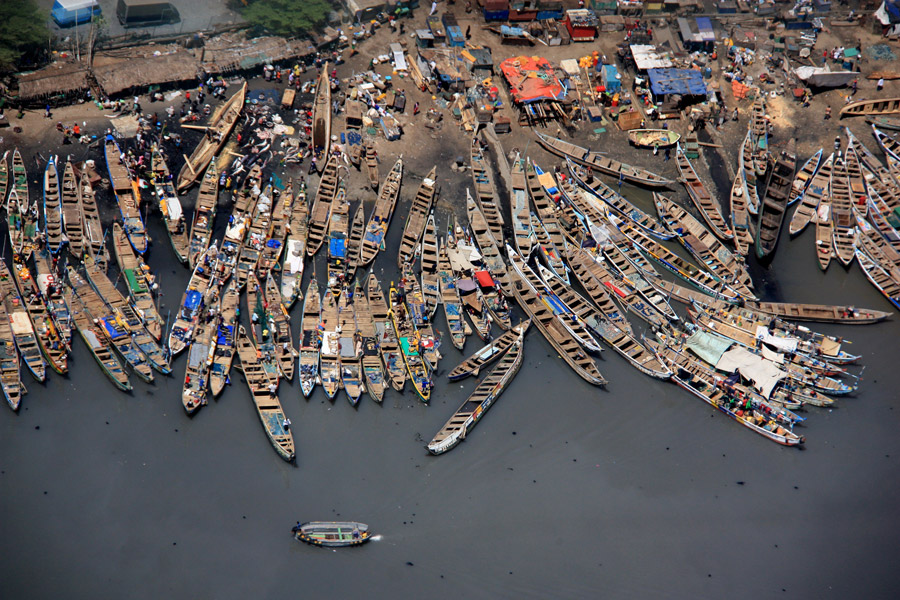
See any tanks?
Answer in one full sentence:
No, there is no tank in the image.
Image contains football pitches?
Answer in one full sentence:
No, I find no football pitch anywhere in the image.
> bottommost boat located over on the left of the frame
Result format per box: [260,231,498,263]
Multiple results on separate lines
[292,524,374,546]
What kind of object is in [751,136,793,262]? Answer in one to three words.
boat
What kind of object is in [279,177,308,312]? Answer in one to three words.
boat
